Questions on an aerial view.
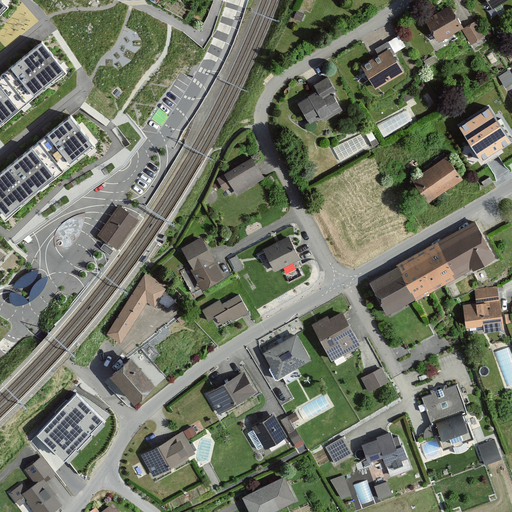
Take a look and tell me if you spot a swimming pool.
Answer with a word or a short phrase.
Yes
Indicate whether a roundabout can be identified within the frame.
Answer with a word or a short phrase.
No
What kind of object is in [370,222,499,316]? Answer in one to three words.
barn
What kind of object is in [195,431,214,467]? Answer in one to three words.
swimming pool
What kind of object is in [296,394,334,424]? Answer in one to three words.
swimming pool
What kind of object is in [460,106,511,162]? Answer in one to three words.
house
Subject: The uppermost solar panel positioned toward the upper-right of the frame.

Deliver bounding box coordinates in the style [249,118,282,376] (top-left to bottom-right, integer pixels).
[370,62,402,86]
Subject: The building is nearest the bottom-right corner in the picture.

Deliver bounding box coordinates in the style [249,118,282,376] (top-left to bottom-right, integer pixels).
[476,439,501,465]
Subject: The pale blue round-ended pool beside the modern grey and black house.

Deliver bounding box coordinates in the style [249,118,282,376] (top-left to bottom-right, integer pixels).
[420,436,447,462]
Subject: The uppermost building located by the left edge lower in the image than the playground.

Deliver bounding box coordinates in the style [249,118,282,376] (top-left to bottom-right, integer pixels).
[0,42,68,130]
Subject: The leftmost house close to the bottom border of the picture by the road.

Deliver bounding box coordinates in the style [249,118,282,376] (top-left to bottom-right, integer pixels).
[8,456,70,512]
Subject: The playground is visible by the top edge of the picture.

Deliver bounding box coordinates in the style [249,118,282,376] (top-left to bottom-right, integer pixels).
[0,3,38,46]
